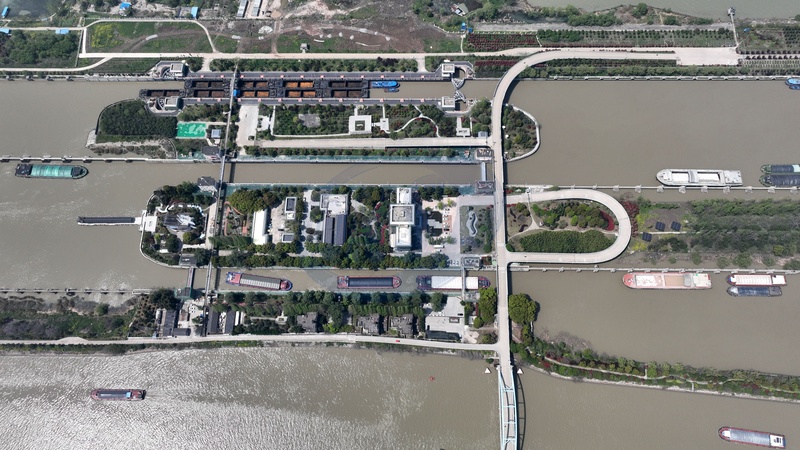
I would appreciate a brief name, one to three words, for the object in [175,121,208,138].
sports court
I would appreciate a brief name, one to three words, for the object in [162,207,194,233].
building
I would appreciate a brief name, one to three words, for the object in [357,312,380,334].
house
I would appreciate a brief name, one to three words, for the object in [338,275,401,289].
ship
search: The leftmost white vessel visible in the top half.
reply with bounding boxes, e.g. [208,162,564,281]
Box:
[656,170,744,186]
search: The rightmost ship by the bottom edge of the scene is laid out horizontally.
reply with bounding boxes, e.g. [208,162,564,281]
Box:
[718,426,786,448]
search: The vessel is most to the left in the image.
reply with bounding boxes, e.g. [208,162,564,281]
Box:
[13,164,89,179]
